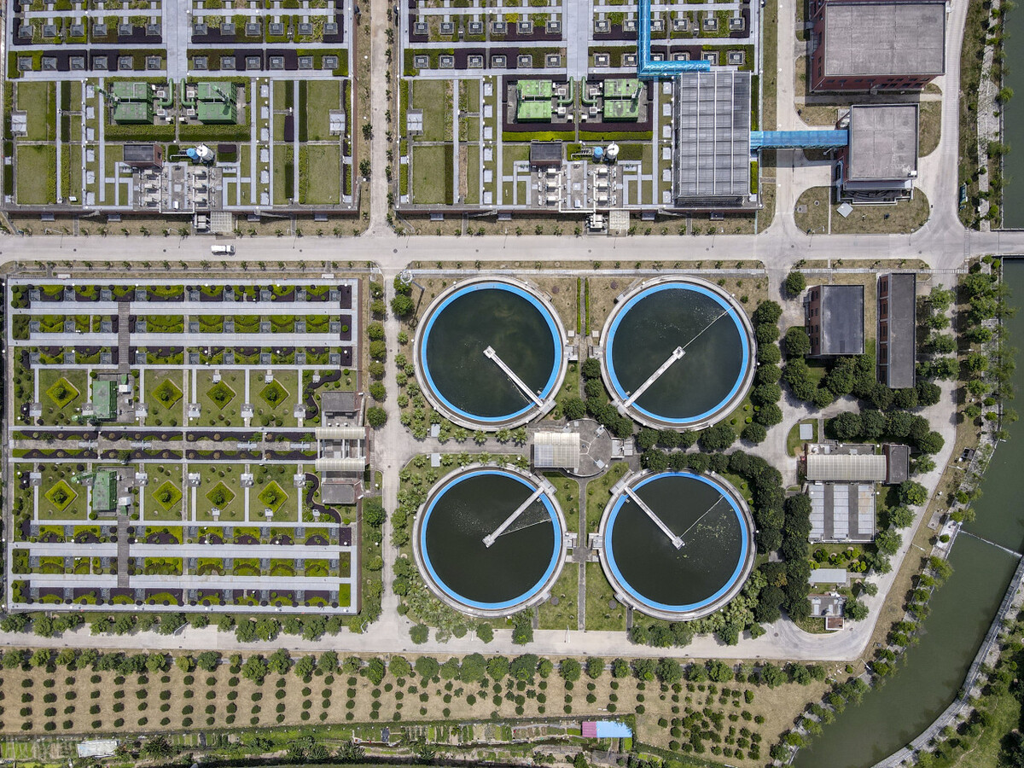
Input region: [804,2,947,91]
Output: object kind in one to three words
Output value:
building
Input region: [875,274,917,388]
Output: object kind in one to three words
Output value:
building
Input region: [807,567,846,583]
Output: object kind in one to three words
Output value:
shed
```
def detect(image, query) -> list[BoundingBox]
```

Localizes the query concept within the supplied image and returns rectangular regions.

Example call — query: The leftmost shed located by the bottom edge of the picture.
[77,736,121,756]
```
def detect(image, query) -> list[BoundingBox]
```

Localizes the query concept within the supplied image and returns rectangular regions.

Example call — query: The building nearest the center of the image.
[531,417,633,479]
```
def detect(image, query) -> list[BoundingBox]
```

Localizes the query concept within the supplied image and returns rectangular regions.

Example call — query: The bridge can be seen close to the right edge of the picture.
[989,229,1024,256]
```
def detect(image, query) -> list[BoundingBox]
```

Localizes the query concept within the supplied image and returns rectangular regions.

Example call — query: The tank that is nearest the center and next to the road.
[414,275,569,430]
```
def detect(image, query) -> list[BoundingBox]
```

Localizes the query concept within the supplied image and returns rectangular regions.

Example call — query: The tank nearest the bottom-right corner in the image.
[599,464,755,620]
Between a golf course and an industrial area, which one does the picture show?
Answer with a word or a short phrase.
industrial area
